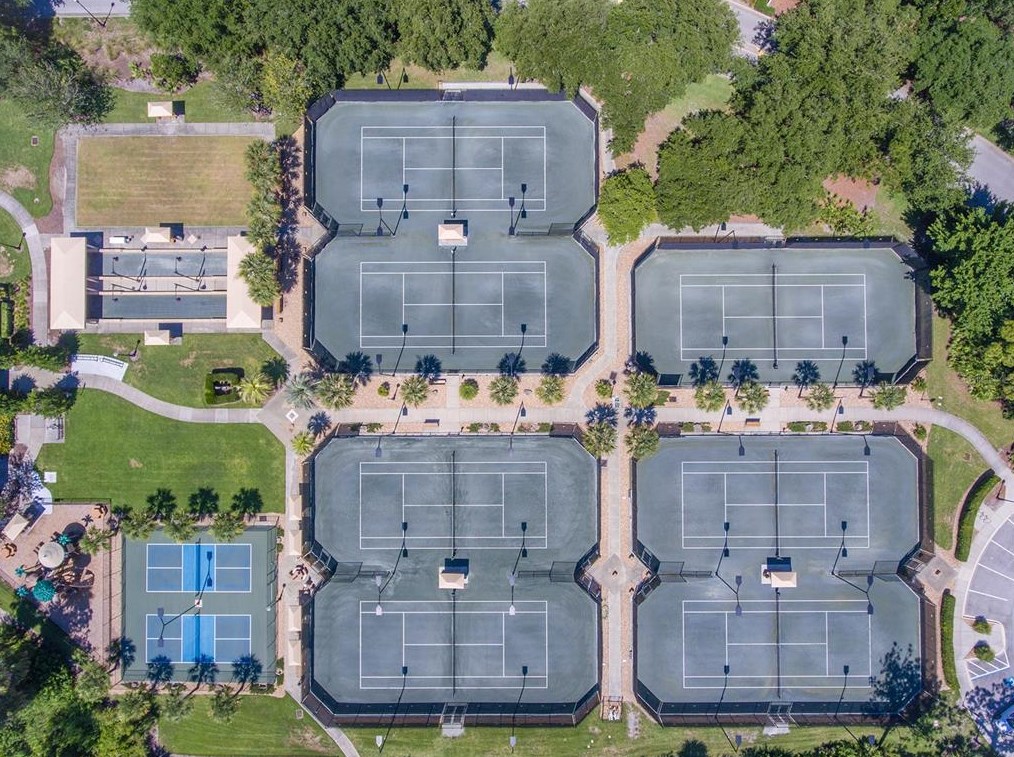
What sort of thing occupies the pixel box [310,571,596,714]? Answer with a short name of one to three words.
tennis court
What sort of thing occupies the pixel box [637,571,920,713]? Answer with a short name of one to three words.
tennis court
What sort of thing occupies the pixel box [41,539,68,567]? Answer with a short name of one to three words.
umbrella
